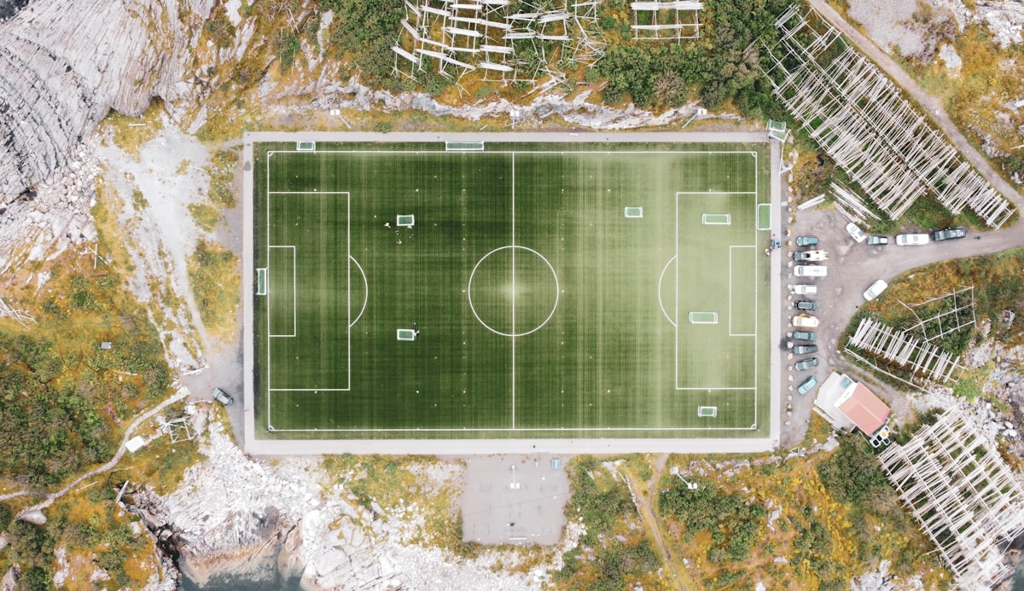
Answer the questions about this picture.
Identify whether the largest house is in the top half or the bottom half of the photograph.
bottom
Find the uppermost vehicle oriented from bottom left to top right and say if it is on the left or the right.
right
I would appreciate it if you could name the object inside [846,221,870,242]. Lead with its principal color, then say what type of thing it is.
white vehicle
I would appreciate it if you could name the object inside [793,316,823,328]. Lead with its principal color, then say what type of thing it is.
white vehicle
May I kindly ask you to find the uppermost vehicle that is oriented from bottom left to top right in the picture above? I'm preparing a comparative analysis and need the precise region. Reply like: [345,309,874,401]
[864,279,892,301]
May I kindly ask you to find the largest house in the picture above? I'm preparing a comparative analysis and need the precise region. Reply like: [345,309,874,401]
[812,372,891,435]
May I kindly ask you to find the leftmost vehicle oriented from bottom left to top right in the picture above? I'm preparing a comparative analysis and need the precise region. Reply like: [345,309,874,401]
[797,376,820,395]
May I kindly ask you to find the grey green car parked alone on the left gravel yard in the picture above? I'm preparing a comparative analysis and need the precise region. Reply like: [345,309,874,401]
[210,388,233,407]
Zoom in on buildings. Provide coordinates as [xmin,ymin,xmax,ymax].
[119,436,145,456]
[812,372,891,435]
